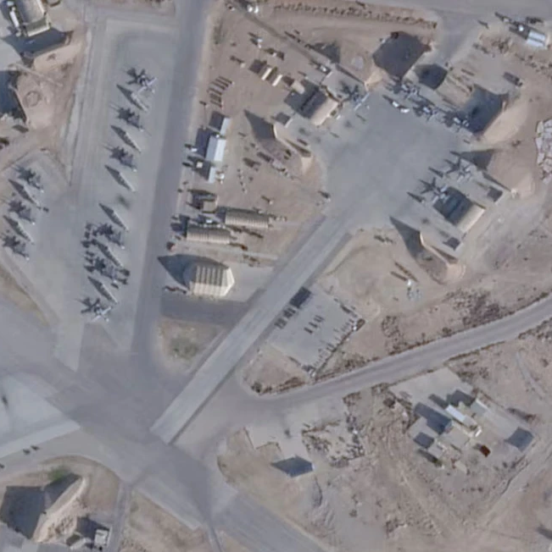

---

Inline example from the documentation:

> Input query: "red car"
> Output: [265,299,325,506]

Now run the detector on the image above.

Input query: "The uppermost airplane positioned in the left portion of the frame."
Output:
[137,74,156,93]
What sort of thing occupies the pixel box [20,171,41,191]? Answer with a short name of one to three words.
airplane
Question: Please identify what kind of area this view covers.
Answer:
airport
